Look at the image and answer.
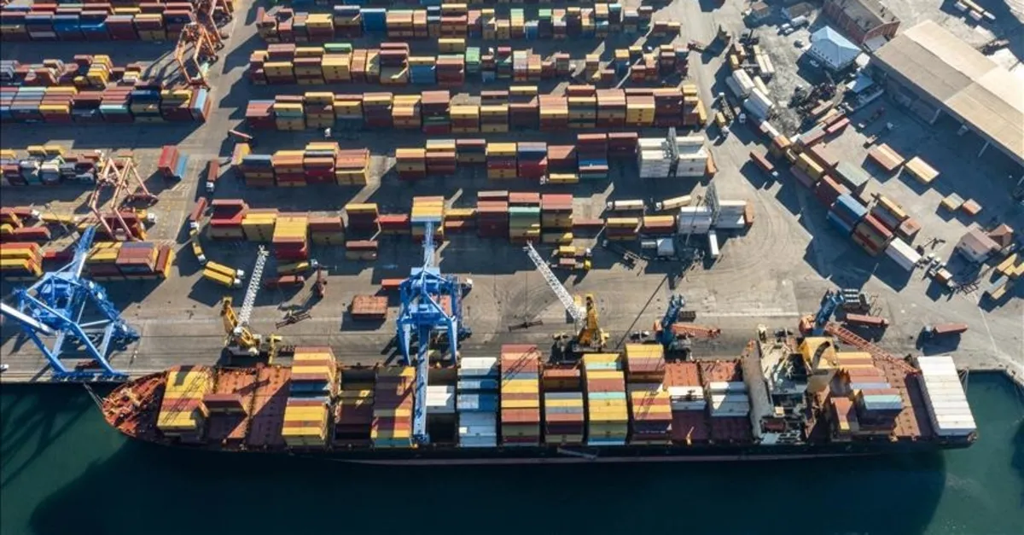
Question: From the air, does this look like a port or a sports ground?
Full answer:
The picture captures a port.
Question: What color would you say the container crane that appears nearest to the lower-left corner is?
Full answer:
The container crane that appears nearest to the lower-left corner is blue.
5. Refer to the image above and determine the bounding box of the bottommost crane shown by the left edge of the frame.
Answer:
[0,213,139,373]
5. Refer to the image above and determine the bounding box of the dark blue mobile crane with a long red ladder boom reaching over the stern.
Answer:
[797,288,916,375]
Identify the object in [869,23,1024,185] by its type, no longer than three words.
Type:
warehouse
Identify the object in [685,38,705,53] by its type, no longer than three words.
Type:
vehicle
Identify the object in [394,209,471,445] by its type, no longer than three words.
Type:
container crane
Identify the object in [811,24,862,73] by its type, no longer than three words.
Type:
house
